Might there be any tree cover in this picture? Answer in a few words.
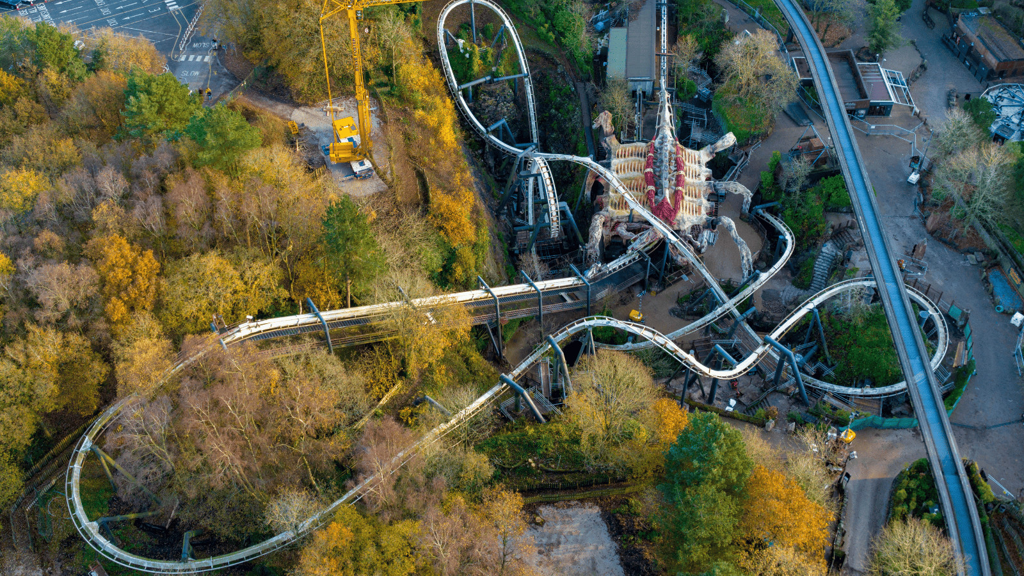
Yes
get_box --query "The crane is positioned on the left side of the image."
[300,0,440,201]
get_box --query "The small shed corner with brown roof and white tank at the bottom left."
[83,542,114,576]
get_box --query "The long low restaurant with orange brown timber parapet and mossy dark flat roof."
[954,11,1024,88]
